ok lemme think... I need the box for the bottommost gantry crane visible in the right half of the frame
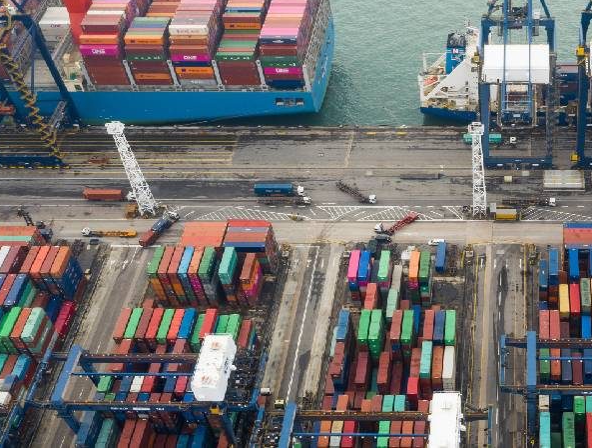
[254,394,499,448]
